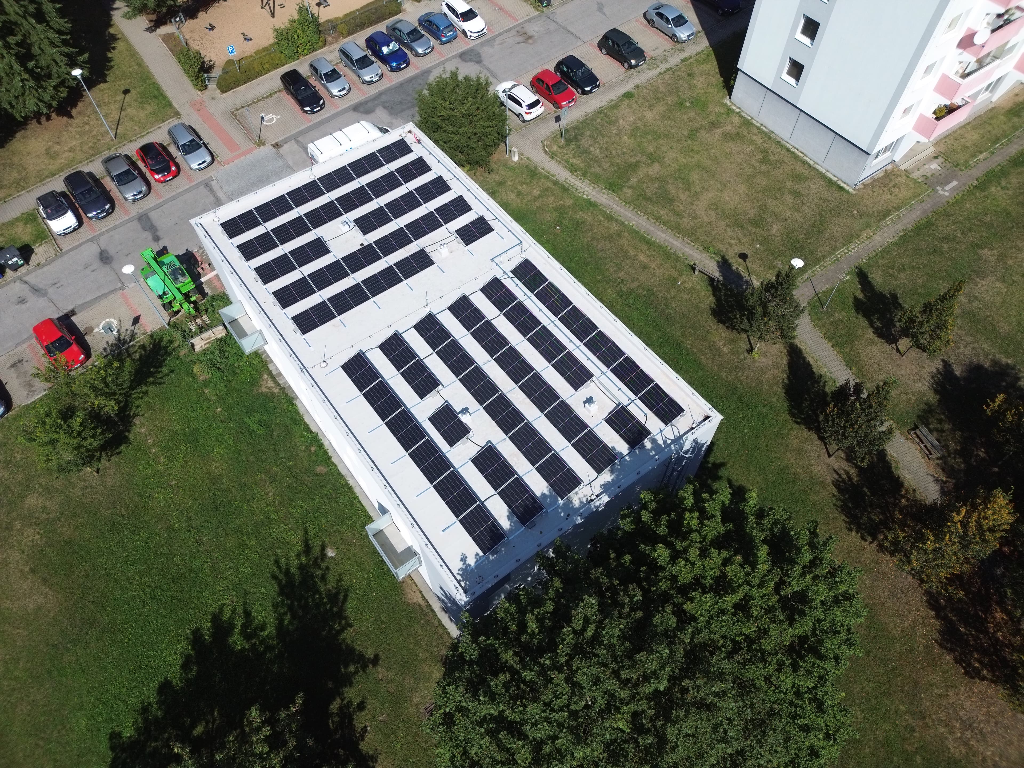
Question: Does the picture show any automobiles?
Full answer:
Yes, this view includes an automobile.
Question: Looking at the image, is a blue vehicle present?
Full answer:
Yes, a blue vehicle is visible in the scene.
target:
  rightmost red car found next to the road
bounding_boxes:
[529,66,581,110]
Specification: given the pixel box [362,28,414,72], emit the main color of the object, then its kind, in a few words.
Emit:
blue car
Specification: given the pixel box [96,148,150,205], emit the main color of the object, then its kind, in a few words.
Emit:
gray car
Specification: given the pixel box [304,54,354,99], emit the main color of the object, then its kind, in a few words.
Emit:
gray car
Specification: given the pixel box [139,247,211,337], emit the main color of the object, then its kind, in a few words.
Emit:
green work vehicle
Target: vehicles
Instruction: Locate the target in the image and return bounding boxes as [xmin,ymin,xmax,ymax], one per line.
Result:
[139,247,211,337]
[553,53,605,95]
[274,66,328,114]
[598,28,651,70]
[436,0,491,39]
[362,28,414,72]
[415,10,461,46]
[333,38,386,85]
[24,308,89,372]
[33,186,82,238]
[130,138,180,186]
[96,148,150,205]
[162,120,214,172]
[387,16,438,57]
[529,66,581,110]
[60,165,114,224]
[311,118,392,165]
[492,77,548,122]
[644,2,700,43]
[304,54,354,99]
